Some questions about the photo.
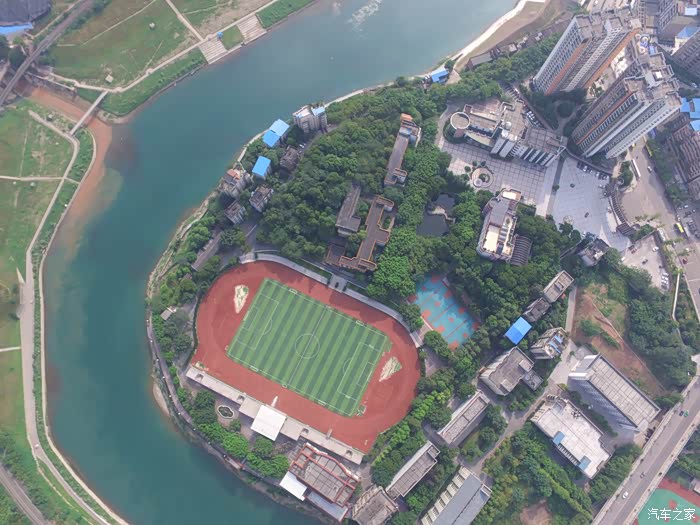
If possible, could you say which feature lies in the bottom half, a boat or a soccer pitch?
soccer pitch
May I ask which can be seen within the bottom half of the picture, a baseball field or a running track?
running track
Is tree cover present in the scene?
Yes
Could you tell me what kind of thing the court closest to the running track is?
basketball court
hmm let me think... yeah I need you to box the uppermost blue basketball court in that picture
[412,273,483,348]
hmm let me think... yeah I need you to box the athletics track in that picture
[192,261,421,454]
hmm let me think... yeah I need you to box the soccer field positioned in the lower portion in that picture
[227,278,392,418]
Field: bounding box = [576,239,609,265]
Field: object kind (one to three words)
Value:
house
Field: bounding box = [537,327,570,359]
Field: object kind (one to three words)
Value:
house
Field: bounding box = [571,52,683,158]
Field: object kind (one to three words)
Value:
building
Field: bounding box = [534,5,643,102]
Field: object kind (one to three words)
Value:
building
